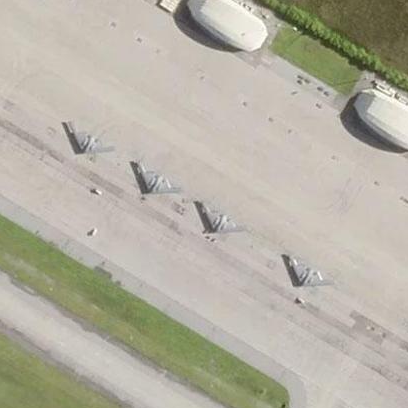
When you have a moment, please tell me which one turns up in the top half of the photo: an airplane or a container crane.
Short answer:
airplane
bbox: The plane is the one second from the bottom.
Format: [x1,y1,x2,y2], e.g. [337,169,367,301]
[197,204,245,233]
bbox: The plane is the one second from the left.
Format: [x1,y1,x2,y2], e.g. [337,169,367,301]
[134,165,182,194]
